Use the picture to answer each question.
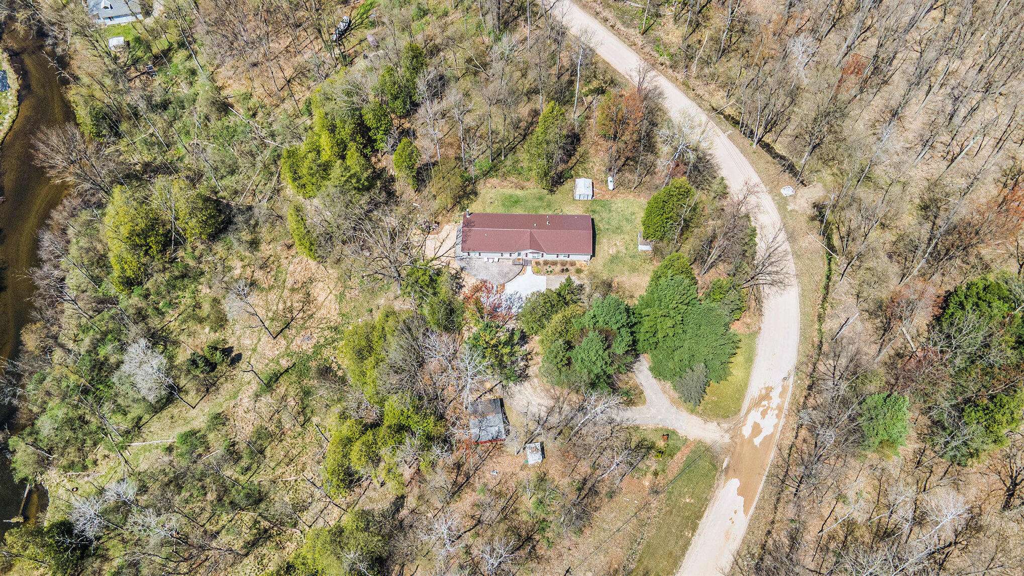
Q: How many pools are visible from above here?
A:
zero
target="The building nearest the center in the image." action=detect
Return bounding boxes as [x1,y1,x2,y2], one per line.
[459,209,592,263]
